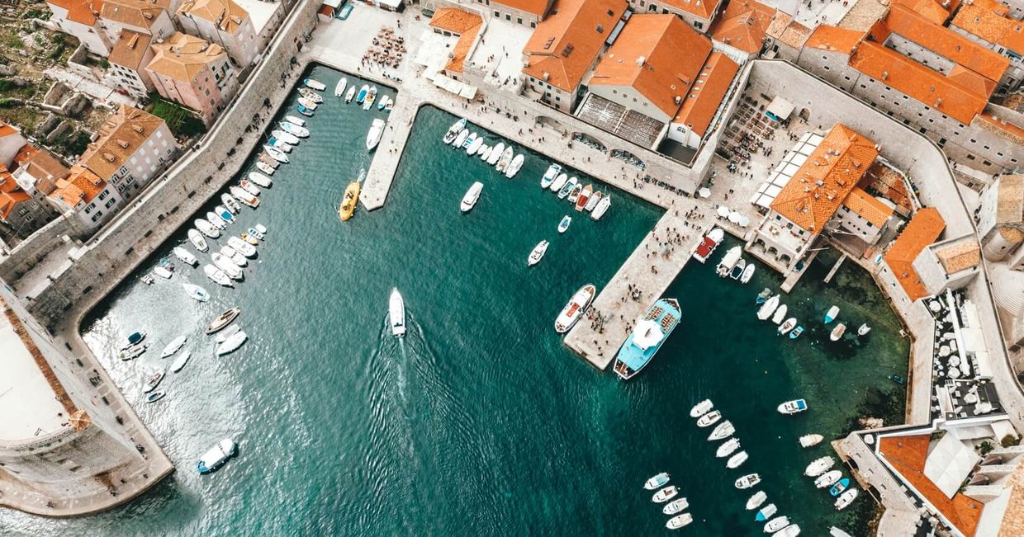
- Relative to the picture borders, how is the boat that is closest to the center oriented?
on a diagonal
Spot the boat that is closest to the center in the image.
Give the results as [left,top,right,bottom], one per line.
[528,239,550,266]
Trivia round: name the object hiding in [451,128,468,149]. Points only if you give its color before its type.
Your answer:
white boat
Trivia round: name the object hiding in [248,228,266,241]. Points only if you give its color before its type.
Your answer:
white boat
